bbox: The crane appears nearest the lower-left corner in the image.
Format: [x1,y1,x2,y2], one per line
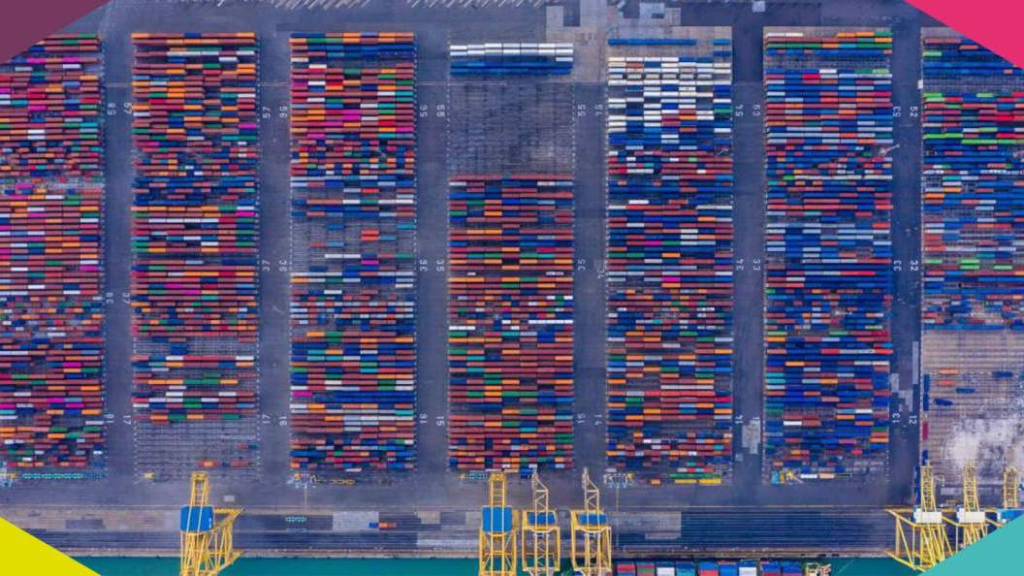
[175,471,249,576]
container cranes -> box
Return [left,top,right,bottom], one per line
[175,471,249,576]
[517,467,561,576]
[882,463,960,576]
[920,463,1004,576]
[563,467,610,576]
[477,471,518,576]
[961,463,1024,576]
